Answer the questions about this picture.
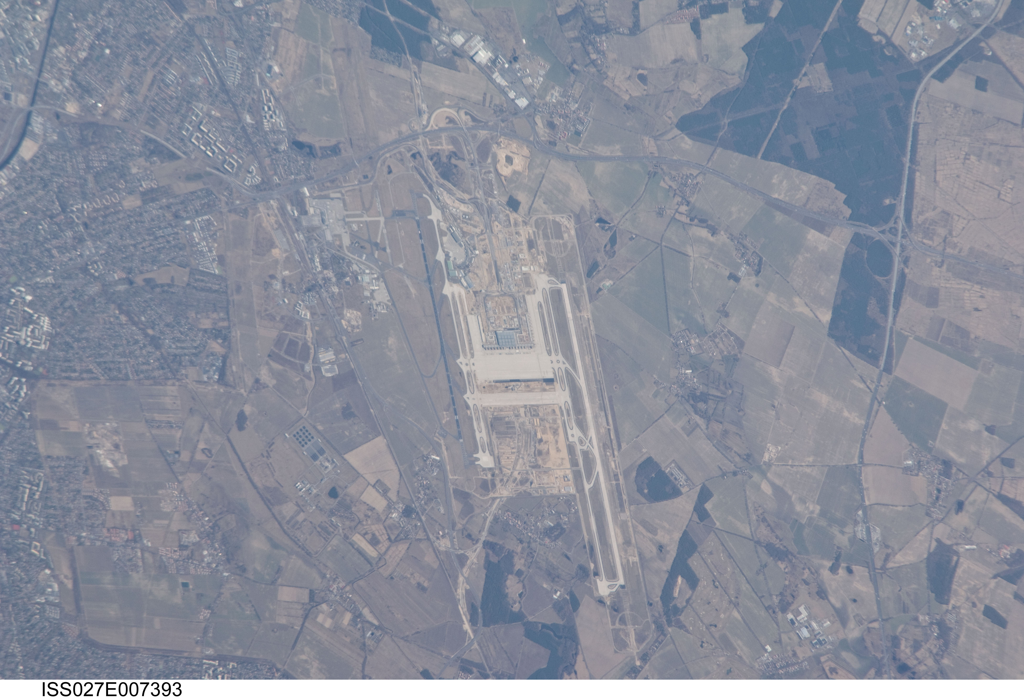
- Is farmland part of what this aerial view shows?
Yes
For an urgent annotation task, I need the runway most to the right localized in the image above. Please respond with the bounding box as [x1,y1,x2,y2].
[560,279,626,589]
